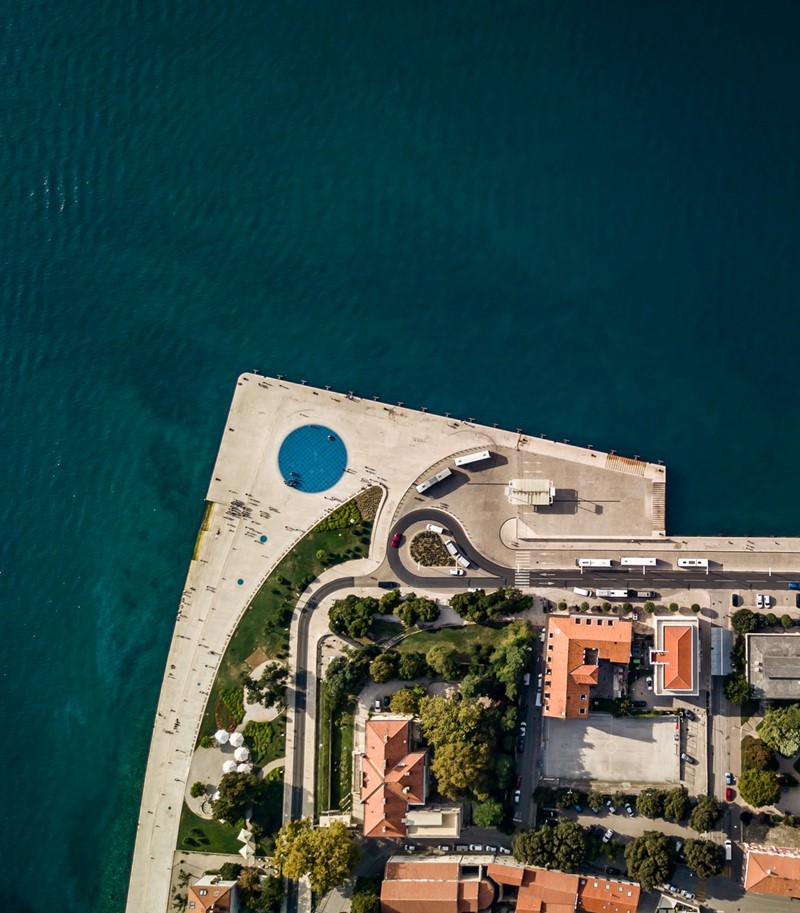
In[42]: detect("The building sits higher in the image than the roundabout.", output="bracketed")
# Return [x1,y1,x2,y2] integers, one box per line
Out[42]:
[466,480,562,504]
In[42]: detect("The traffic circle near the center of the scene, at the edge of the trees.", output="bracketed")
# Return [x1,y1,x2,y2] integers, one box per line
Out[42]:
[387,506,514,588]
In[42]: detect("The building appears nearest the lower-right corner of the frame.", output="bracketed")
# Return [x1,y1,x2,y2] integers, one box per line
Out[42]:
[738,843,800,901]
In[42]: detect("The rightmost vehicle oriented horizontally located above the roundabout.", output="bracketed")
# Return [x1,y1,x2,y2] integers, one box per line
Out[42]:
[455,450,492,466]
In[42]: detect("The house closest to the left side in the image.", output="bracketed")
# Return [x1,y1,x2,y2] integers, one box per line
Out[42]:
[188,879,243,913]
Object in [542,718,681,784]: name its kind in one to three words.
sports court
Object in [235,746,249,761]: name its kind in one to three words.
umbrella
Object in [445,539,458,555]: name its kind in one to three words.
vehicle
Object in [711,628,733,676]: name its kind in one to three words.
shed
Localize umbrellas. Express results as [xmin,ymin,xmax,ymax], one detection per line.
[215,728,229,743]
[229,732,243,746]
[237,761,252,775]
[235,746,249,761]
[238,843,255,860]
[223,759,237,773]
[236,827,253,843]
